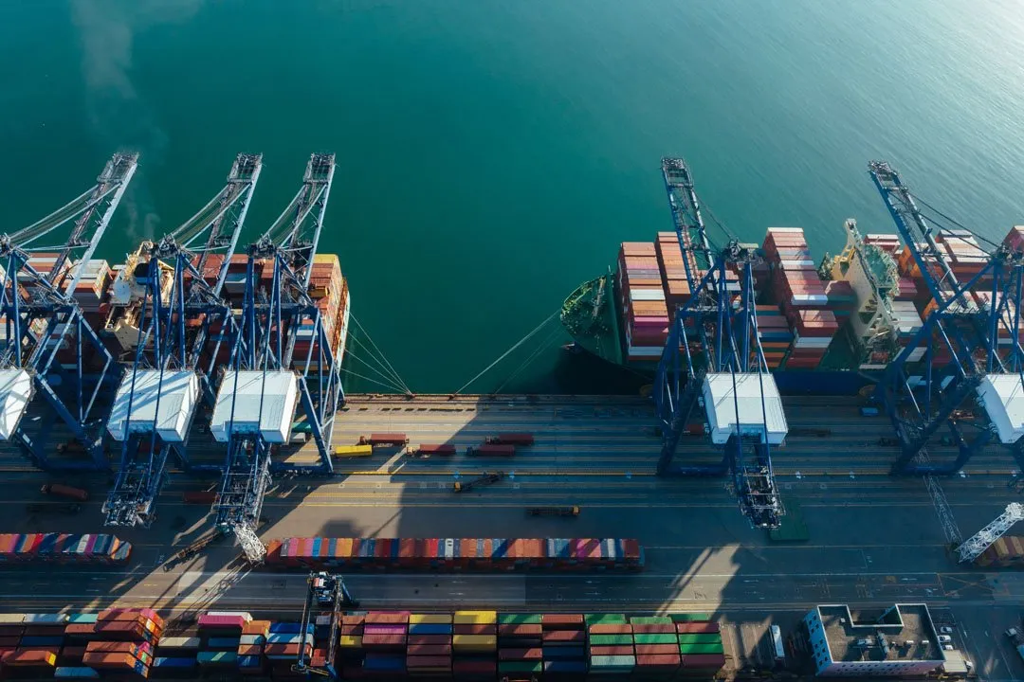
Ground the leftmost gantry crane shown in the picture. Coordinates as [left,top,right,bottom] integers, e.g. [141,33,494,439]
[0,153,135,473]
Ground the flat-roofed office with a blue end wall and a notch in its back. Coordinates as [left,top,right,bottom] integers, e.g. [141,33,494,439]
[804,604,947,674]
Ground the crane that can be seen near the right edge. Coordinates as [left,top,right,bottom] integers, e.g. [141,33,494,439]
[859,153,1024,484]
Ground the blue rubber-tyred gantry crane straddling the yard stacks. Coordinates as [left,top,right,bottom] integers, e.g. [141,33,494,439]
[286,571,362,682]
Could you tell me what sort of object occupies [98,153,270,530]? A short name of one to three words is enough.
container crane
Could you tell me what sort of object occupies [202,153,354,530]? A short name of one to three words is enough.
container crane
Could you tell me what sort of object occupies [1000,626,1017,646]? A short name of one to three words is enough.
vehicle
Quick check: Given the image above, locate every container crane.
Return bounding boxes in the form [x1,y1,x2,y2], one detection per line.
[0,153,135,473]
[98,153,270,530]
[286,571,362,682]
[859,153,1024,484]
[645,153,788,530]
[202,153,354,530]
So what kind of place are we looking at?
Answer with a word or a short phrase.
port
